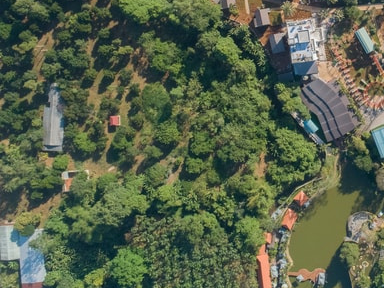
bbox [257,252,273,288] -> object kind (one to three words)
house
